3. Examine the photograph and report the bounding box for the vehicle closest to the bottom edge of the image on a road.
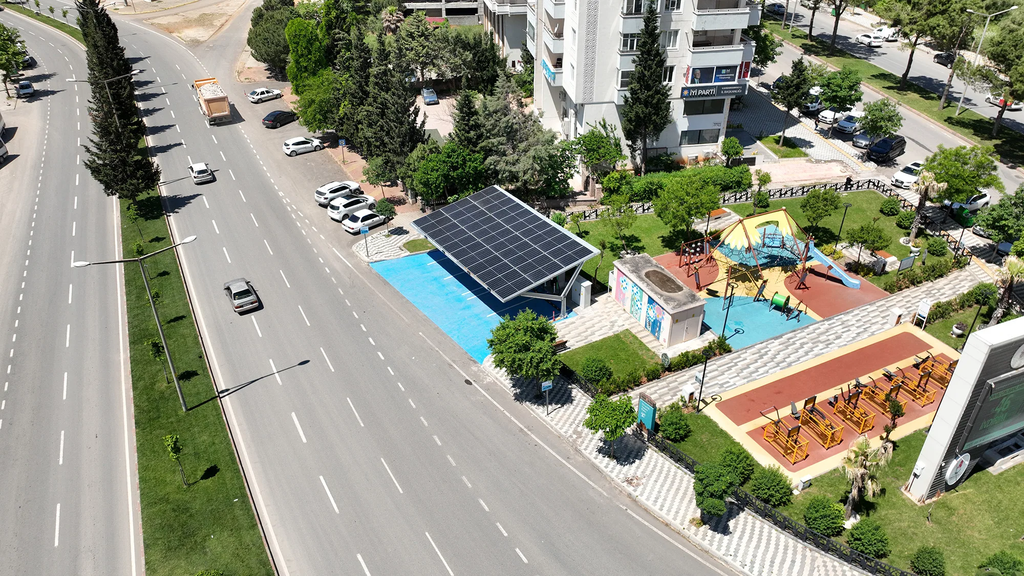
[223,276,263,315]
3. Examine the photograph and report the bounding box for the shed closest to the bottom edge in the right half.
[604,254,708,347]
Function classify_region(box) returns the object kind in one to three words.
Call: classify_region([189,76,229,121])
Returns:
truck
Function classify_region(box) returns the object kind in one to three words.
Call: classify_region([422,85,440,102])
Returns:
car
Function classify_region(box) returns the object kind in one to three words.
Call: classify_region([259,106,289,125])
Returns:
car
